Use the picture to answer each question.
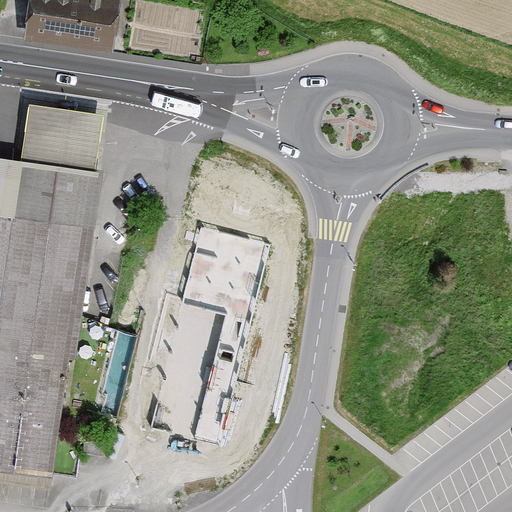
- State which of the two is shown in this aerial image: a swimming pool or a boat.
swimming pool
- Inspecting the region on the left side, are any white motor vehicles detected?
Yes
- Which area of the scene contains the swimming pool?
bottom left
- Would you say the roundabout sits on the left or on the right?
right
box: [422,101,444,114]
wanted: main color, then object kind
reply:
red vehicle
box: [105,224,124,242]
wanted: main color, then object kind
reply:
white car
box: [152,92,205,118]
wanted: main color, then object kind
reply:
white bus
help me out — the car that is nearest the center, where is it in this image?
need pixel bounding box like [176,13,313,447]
[280,144,300,157]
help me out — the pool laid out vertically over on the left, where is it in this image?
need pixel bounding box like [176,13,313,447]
[101,326,137,418]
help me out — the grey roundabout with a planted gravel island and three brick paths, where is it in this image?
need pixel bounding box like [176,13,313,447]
[256,54,424,198]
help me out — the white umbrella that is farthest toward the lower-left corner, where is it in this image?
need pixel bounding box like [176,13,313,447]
[79,344,93,358]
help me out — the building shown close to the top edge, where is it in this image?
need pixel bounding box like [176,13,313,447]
[24,0,120,52]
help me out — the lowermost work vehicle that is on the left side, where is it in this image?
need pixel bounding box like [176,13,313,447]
[172,440,201,453]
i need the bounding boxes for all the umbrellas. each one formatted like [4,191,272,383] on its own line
[90,325,104,339]
[79,344,93,358]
